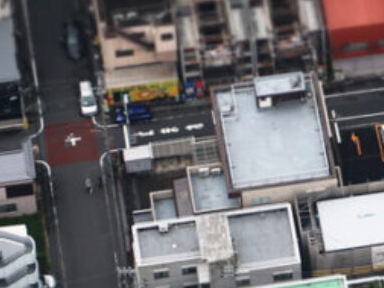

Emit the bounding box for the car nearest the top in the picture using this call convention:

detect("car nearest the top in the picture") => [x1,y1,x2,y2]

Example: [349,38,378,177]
[66,25,83,57]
